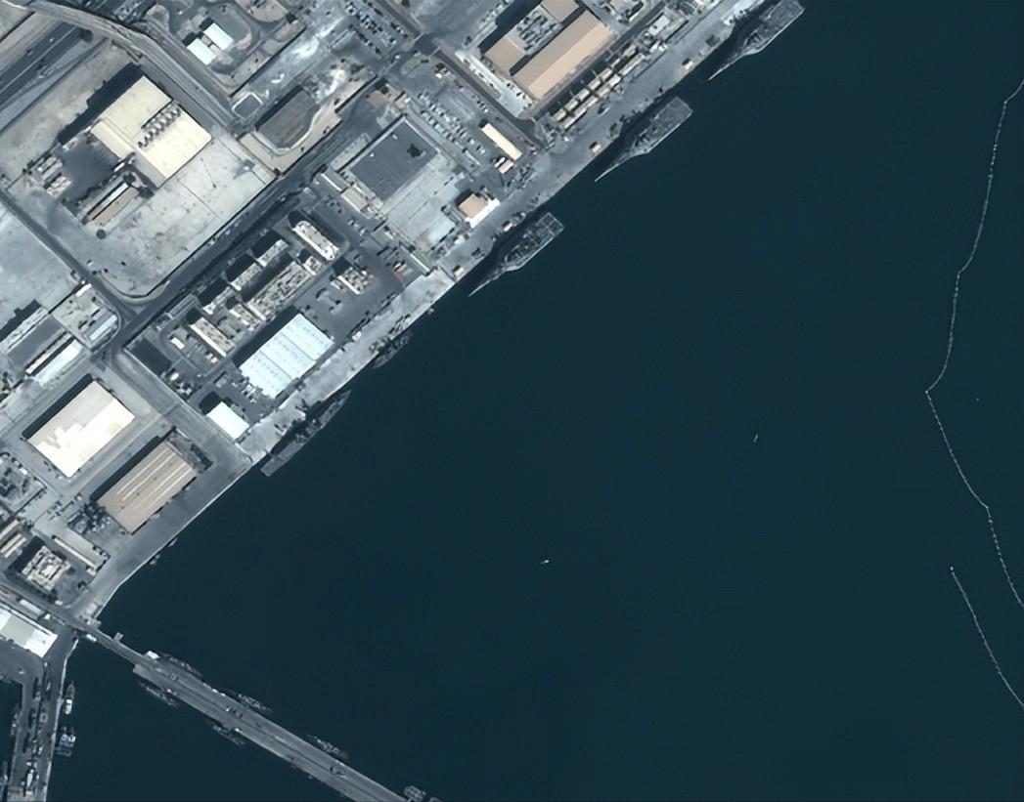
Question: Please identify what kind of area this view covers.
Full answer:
What you see here is a port.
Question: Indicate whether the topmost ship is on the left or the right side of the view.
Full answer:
The topmost ship is on the right side of the image.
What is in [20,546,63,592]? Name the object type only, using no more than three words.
building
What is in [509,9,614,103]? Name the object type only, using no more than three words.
building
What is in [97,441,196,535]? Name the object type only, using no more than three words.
hangar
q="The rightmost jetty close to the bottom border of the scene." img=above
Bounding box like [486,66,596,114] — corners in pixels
[84,629,407,802]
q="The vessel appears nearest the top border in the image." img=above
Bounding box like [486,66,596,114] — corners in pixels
[708,0,808,80]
